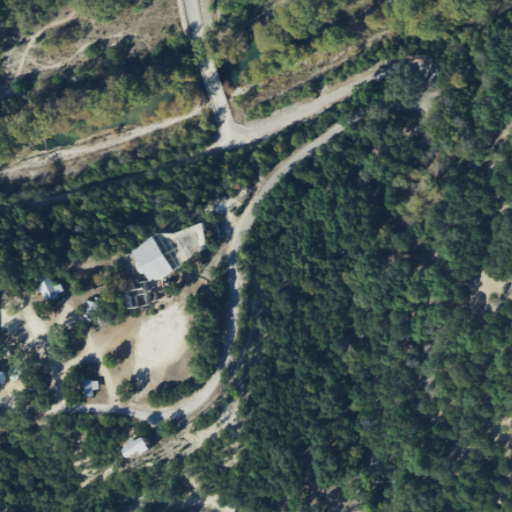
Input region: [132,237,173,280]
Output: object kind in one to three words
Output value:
building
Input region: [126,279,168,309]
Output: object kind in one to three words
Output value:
building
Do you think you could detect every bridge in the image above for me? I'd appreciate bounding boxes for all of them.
[196,44,225,103]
